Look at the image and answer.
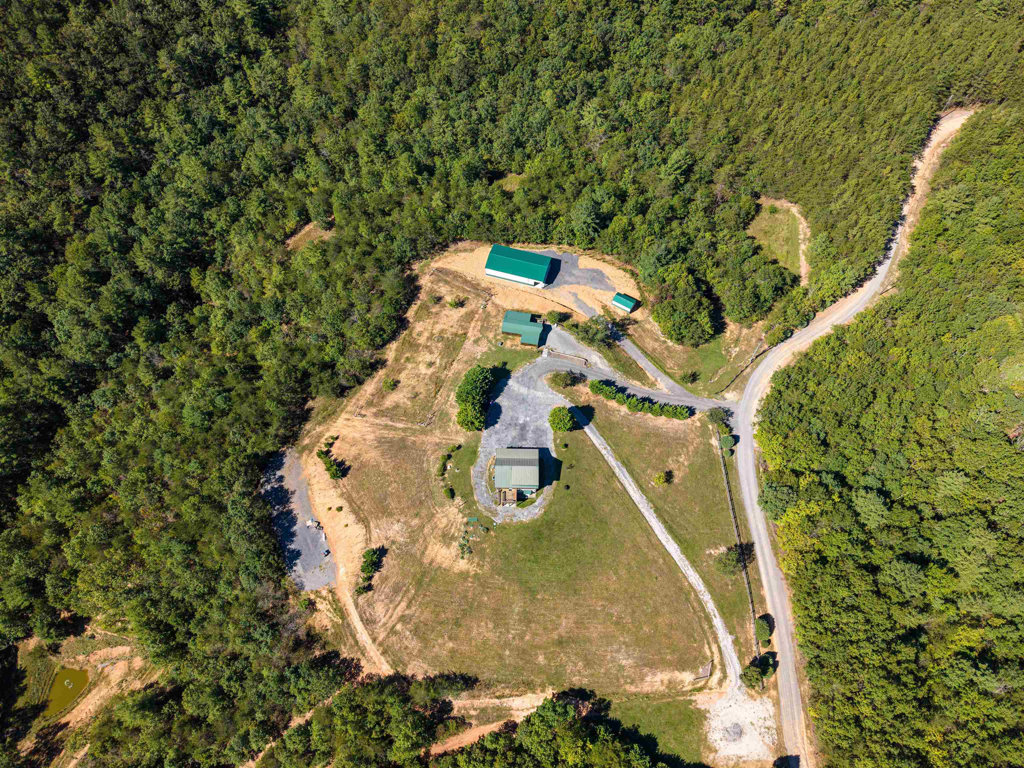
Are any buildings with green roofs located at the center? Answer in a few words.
Yes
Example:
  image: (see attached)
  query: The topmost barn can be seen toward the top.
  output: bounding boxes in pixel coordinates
[483,243,552,290]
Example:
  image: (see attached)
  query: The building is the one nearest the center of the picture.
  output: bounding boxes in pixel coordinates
[501,311,546,351]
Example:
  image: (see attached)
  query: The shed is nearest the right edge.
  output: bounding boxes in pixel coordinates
[612,291,638,314]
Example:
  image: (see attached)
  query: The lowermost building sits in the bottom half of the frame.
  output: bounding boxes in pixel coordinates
[495,448,539,510]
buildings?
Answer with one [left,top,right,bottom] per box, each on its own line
[495,448,539,510]
[483,243,552,290]
[612,291,638,314]
[501,311,546,351]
